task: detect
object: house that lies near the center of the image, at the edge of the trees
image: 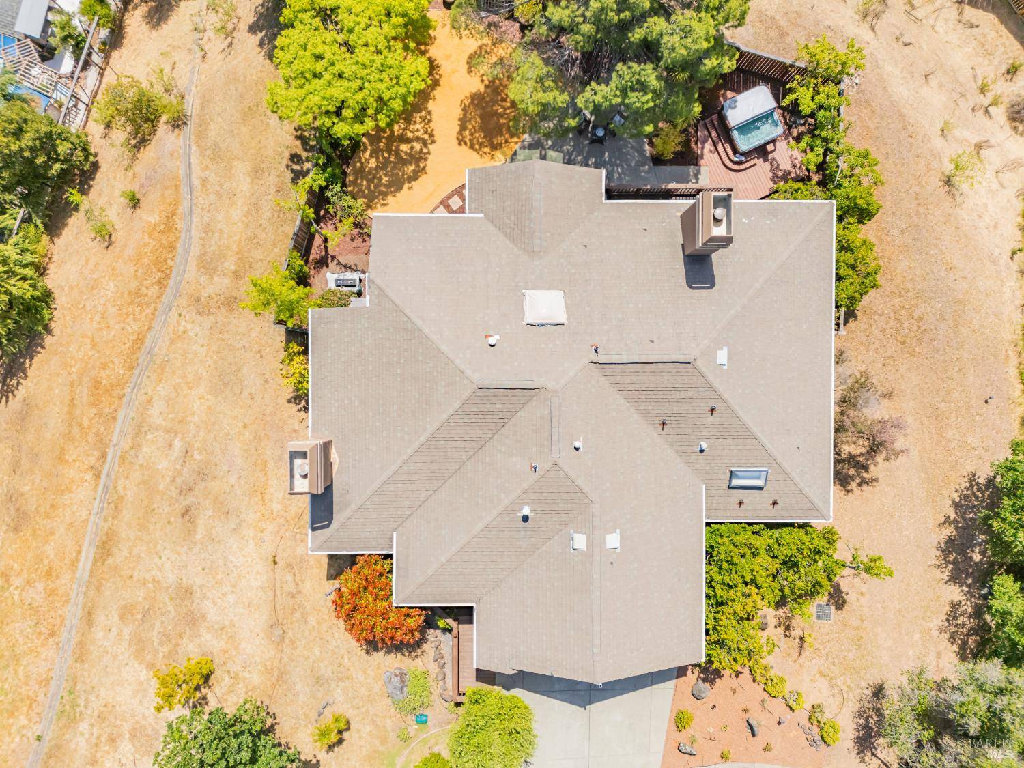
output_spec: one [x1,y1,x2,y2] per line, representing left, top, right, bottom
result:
[289,160,837,688]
